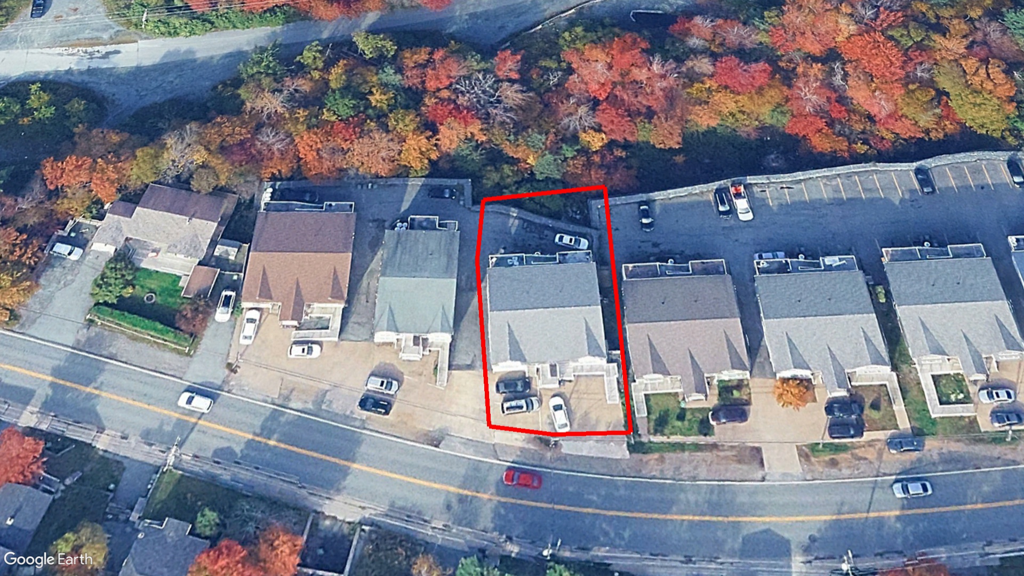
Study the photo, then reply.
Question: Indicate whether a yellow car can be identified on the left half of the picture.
No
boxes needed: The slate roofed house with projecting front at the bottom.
[113,518,211,576]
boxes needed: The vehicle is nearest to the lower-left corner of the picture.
[177,390,216,412]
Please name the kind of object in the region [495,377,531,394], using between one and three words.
car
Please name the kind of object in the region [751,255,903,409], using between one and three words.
house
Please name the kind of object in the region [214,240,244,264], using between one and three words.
shed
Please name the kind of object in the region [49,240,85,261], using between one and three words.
car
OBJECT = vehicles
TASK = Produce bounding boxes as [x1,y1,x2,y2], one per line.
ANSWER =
[279,188,319,206]
[709,406,750,424]
[28,0,44,19]
[495,377,531,394]
[892,480,933,497]
[500,394,541,415]
[753,250,785,262]
[217,290,235,323]
[978,386,1015,404]
[825,399,863,417]
[639,201,654,232]
[714,185,732,219]
[1005,156,1024,189]
[357,394,394,415]
[365,375,400,395]
[886,435,925,452]
[730,181,752,222]
[502,469,543,489]
[288,341,321,358]
[914,165,934,195]
[49,240,85,261]
[989,410,1024,429]
[177,390,216,412]
[239,310,259,345]
[553,231,590,253]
